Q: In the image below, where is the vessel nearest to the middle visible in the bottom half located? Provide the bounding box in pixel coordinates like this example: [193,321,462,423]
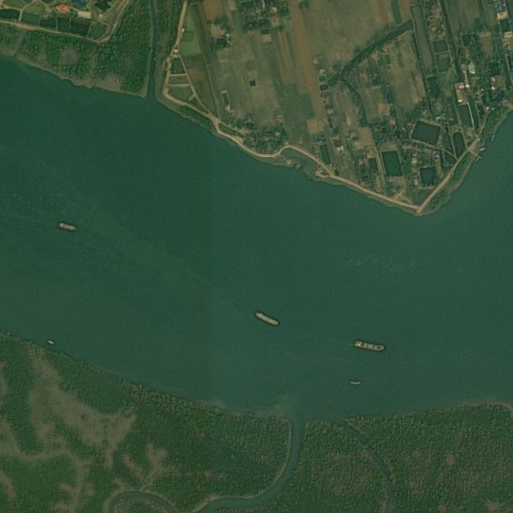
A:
[255,313,279,325]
